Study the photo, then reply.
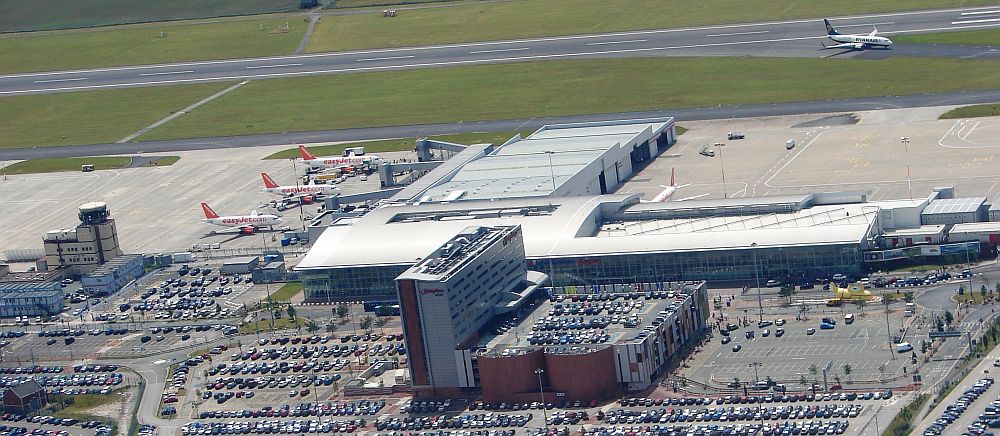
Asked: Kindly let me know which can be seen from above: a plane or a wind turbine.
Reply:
plane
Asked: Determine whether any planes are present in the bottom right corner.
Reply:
No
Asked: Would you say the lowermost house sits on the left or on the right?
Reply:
left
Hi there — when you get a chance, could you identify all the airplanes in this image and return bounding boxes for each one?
[302,143,385,173]
[198,200,283,234]
[825,21,893,51]
[260,170,341,202]
[646,166,703,202]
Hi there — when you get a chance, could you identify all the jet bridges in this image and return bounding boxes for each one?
[375,162,452,189]
[320,186,412,214]
[412,137,473,166]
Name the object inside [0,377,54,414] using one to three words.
house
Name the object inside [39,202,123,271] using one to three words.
building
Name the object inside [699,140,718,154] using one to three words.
vehicle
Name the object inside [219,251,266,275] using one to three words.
shed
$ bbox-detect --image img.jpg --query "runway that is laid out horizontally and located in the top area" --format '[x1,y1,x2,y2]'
[0,6,1000,95]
